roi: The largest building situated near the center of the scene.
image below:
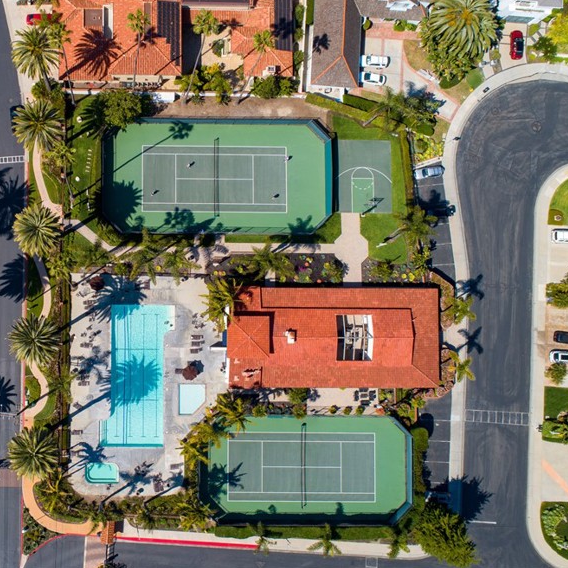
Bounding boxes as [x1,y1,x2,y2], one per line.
[208,287,449,388]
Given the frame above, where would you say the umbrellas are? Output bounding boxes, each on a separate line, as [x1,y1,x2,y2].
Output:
[182,365,197,380]
[91,278,104,291]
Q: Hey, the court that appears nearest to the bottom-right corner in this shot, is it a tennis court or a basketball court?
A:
tennis court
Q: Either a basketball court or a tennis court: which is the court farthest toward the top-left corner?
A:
tennis court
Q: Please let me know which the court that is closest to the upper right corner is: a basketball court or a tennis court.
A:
basketball court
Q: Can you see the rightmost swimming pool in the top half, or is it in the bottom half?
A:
bottom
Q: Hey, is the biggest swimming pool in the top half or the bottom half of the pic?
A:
bottom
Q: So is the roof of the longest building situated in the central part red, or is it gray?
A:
red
